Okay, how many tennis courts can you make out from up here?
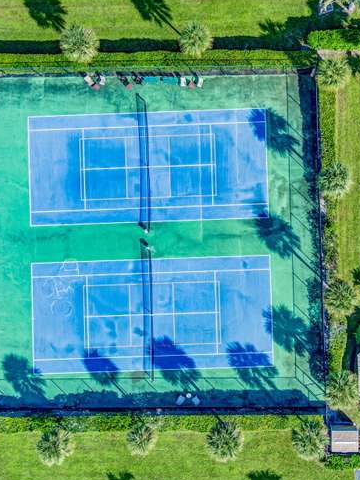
two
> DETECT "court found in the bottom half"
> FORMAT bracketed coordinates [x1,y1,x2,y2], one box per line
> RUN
[32,256,273,374]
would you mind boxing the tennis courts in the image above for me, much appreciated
[28,109,269,226]
[32,256,273,374]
